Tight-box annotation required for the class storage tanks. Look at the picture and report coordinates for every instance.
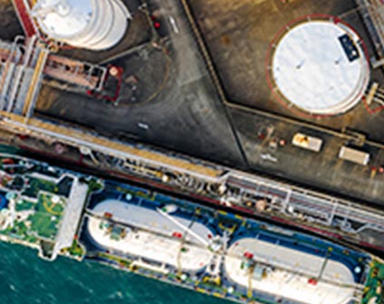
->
[266,14,370,119]
[35,0,125,54]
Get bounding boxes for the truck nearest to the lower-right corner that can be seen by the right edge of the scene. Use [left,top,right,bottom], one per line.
[336,145,370,166]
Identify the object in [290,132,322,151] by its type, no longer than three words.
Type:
vehicle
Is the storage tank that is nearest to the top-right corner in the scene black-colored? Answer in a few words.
No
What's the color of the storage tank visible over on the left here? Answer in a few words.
white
